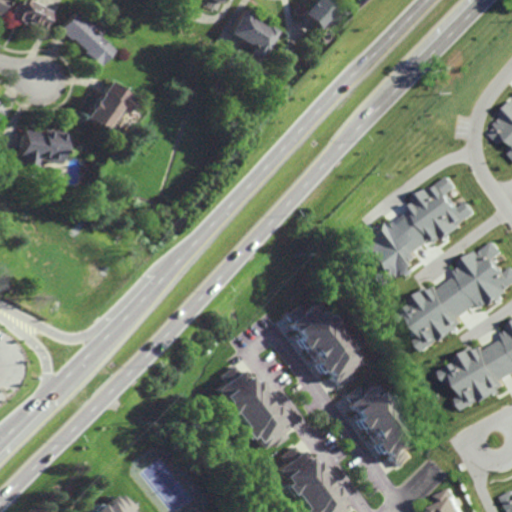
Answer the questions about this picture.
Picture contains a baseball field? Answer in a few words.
No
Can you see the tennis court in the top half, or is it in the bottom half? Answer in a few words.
bottom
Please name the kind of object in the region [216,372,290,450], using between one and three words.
building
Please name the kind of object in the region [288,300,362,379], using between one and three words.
building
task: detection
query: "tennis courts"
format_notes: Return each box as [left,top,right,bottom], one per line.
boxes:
[134,442,200,512]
